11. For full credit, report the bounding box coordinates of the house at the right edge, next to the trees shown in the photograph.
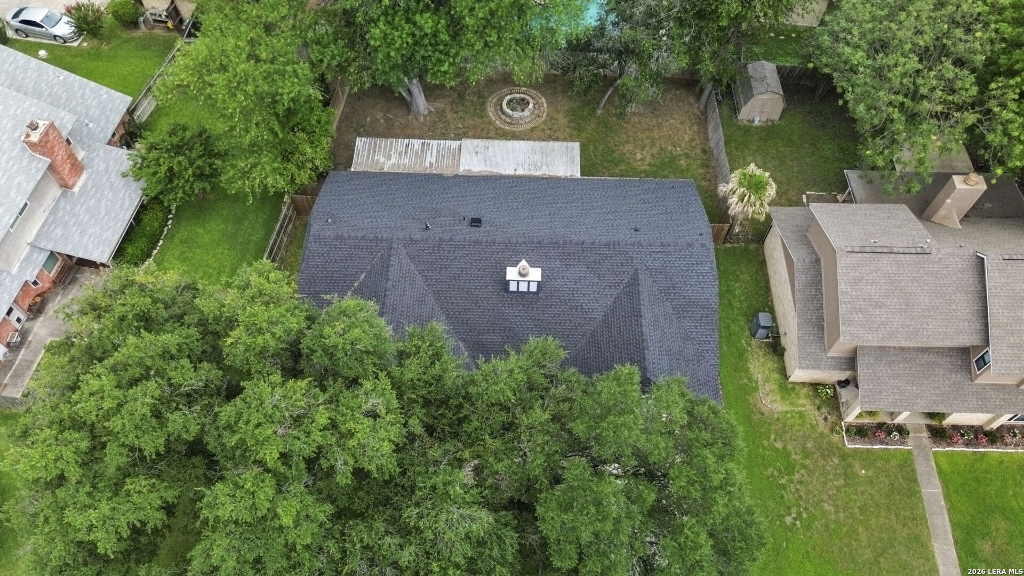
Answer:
[765,173,1024,430]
